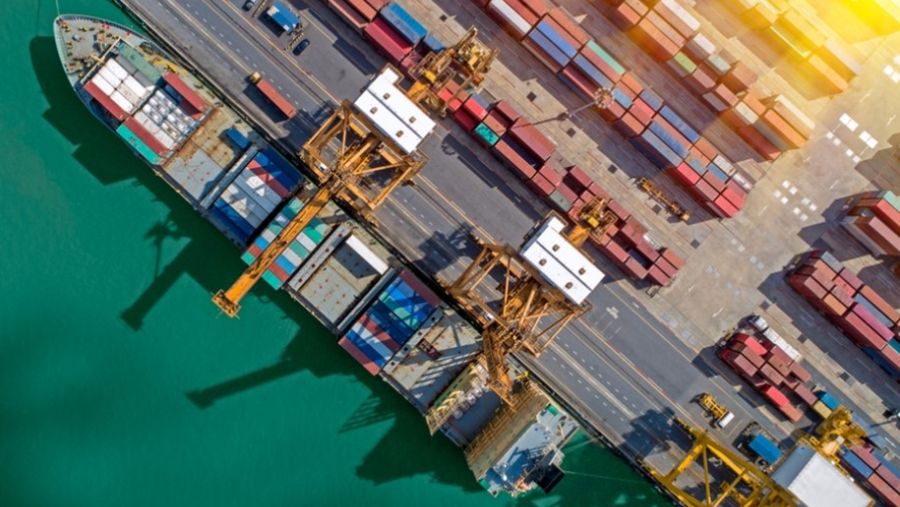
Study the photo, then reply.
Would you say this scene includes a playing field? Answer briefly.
No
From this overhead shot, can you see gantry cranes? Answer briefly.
Yes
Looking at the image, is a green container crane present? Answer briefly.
No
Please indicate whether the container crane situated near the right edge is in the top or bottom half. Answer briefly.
bottom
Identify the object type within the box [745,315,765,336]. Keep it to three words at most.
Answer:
vehicle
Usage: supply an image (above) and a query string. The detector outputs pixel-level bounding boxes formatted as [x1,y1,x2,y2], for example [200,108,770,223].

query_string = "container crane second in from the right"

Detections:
[433,190,626,421]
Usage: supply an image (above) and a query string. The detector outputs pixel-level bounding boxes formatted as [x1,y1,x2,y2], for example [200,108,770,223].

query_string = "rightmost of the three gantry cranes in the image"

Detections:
[636,401,876,507]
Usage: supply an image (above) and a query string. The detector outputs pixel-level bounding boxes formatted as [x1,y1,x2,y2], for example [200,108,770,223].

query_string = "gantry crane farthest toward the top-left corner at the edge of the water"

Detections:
[213,21,502,322]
